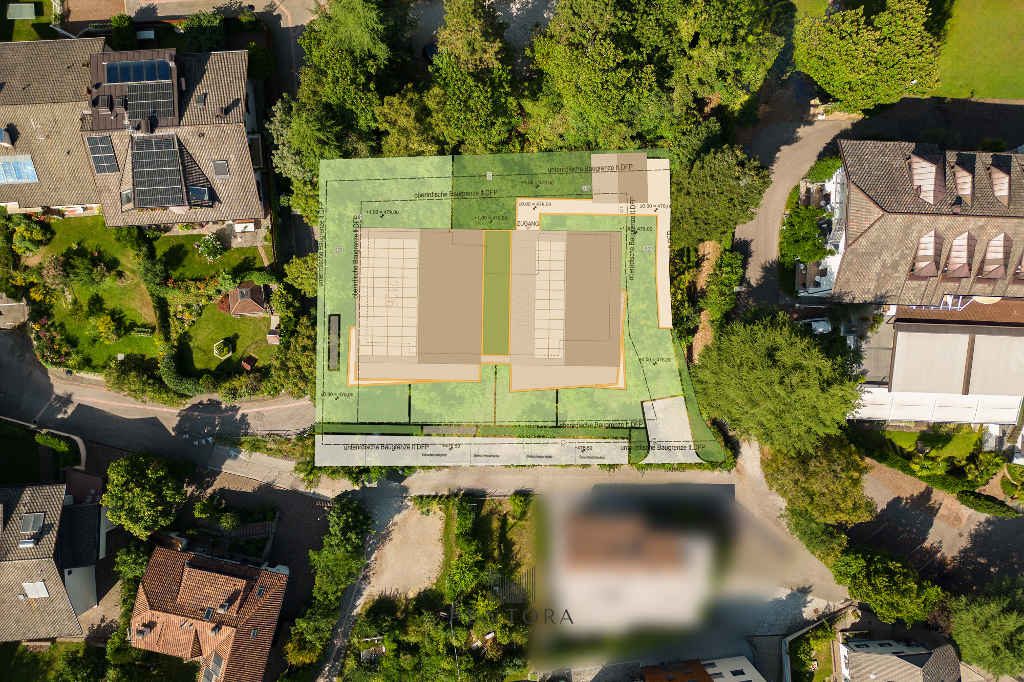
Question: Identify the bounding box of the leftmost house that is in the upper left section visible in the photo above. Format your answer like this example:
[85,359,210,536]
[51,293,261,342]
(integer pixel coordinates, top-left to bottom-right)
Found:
[0,36,112,210]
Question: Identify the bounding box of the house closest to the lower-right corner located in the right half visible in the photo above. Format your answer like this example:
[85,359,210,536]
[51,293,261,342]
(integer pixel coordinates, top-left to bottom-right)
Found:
[825,621,961,682]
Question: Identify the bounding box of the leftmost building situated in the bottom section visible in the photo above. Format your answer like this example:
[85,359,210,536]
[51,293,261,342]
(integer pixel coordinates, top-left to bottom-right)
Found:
[0,466,125,642]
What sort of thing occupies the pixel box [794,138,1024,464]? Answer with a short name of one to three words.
building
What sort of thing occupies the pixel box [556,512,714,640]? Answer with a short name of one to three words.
house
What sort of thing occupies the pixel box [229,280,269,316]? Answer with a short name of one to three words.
building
